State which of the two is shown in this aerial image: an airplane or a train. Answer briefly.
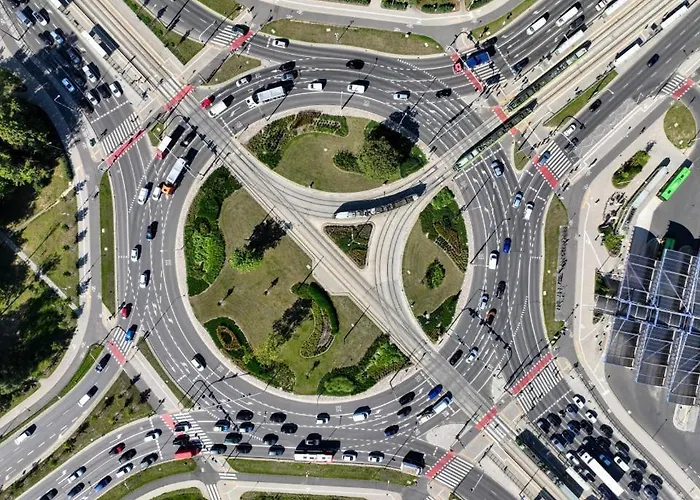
train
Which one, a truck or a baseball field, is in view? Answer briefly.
truck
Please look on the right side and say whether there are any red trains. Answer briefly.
No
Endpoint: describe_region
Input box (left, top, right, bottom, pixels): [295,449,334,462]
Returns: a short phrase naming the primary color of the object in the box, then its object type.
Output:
white vehicle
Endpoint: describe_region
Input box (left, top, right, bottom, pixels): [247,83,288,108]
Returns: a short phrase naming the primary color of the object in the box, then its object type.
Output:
white truck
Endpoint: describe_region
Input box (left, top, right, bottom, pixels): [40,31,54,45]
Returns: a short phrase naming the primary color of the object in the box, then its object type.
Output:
black vehicle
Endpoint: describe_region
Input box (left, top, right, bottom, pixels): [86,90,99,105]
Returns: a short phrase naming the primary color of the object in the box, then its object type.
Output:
white vehicle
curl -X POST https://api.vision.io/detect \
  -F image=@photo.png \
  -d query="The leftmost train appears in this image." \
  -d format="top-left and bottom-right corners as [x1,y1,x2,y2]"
[336,192,419,220]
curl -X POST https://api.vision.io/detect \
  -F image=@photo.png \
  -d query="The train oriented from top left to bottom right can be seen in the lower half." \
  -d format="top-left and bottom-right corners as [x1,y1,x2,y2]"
[511,433,581,500]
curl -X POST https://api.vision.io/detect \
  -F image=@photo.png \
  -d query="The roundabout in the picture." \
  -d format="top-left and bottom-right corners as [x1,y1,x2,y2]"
[116,43,549,472]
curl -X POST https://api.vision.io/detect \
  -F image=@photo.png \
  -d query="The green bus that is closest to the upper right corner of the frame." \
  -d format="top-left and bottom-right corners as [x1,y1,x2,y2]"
[656,166,688,200]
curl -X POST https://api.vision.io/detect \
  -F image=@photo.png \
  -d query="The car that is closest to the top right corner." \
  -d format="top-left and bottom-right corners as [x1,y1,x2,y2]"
[645,53,660,68]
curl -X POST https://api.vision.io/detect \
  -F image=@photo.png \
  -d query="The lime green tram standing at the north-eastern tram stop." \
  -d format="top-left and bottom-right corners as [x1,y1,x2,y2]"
[503,44,591,115]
